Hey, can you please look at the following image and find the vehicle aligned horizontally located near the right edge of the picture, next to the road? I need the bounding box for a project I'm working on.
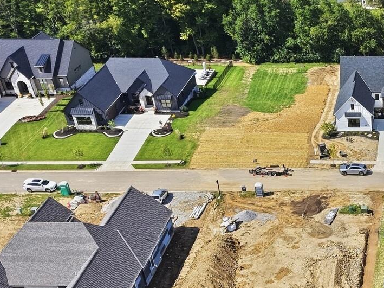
[339,162,368,176]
